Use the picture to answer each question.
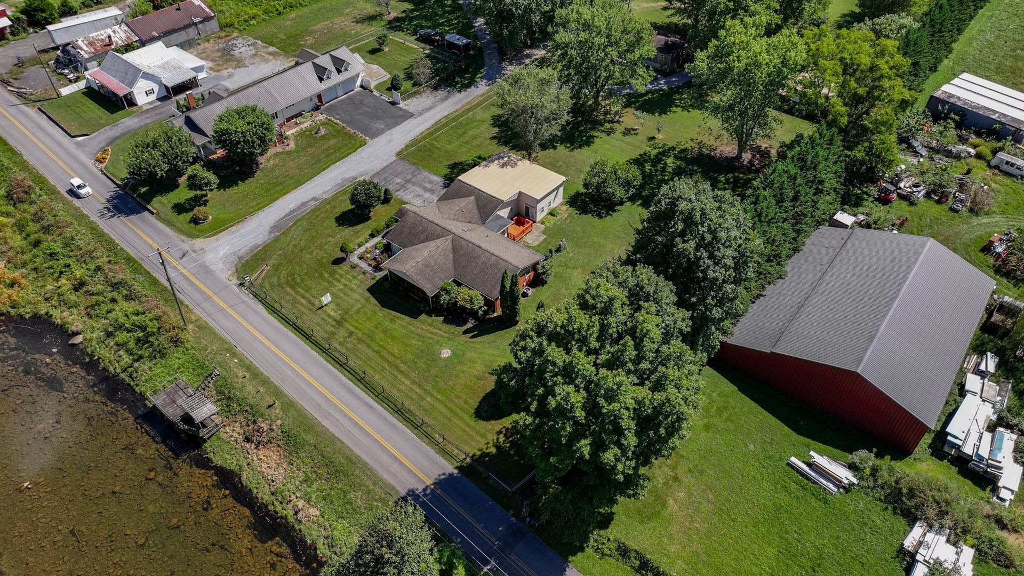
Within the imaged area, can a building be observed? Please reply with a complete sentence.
Yes, the photo shows a building.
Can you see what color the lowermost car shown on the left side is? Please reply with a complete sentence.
The lowermost car shown on the left side looks white in the image.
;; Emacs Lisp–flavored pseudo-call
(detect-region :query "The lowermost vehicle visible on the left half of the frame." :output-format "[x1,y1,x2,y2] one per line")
[69,177,95,199]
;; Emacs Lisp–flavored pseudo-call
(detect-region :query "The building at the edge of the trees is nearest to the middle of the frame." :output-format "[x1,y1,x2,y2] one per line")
[380,151,572,310]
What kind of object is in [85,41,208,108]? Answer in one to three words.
house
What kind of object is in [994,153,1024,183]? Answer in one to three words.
van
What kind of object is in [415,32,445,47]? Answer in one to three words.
vehicle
